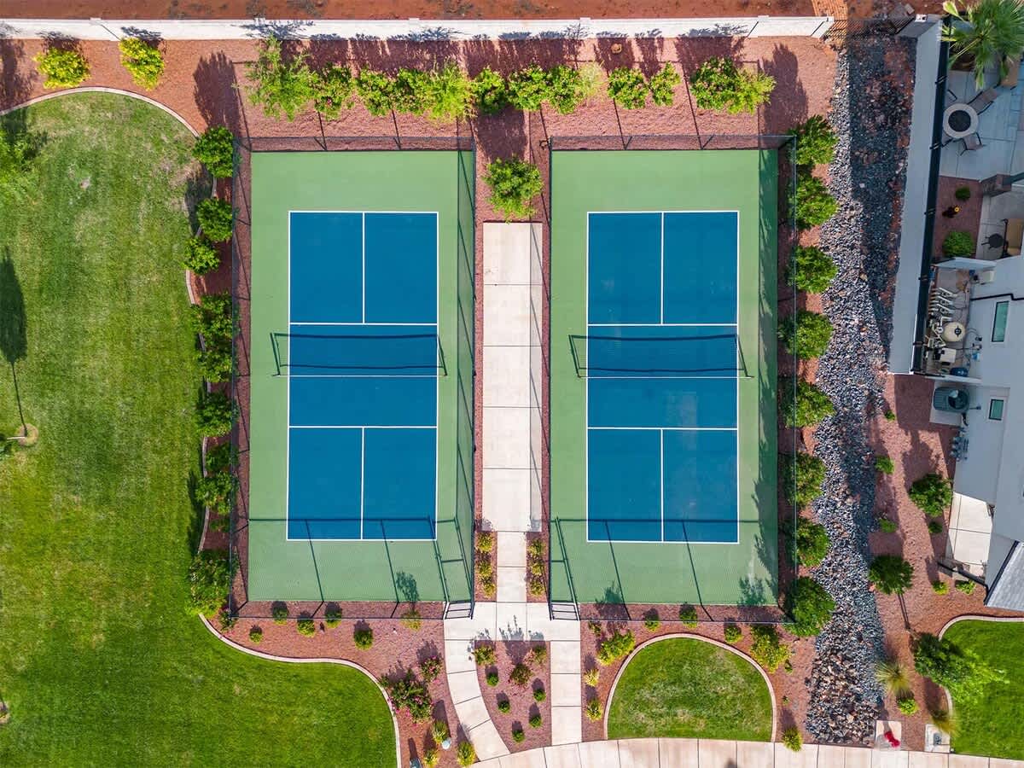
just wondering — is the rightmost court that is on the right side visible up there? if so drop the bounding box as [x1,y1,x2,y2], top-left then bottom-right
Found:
[550,150,778,606]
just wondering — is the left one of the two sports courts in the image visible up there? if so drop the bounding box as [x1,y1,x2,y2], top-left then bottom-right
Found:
[248,151,474,603]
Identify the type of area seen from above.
sports ground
